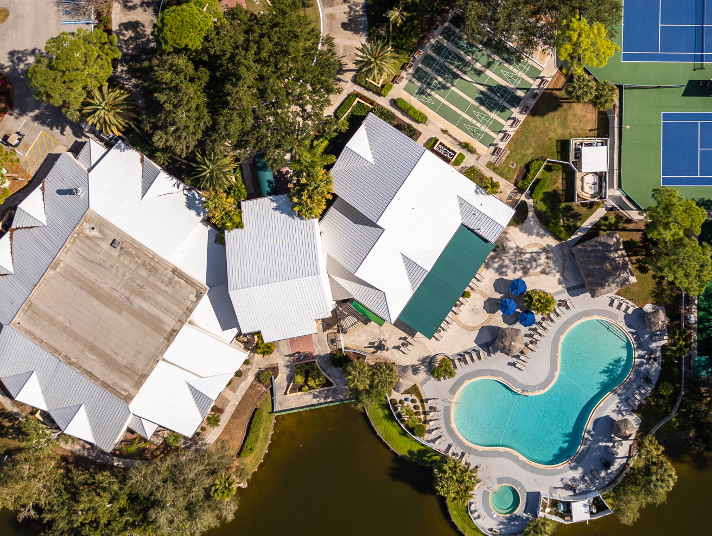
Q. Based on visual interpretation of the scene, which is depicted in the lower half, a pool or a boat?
pool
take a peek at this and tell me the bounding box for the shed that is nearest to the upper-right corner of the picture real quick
[581,146,609,171]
